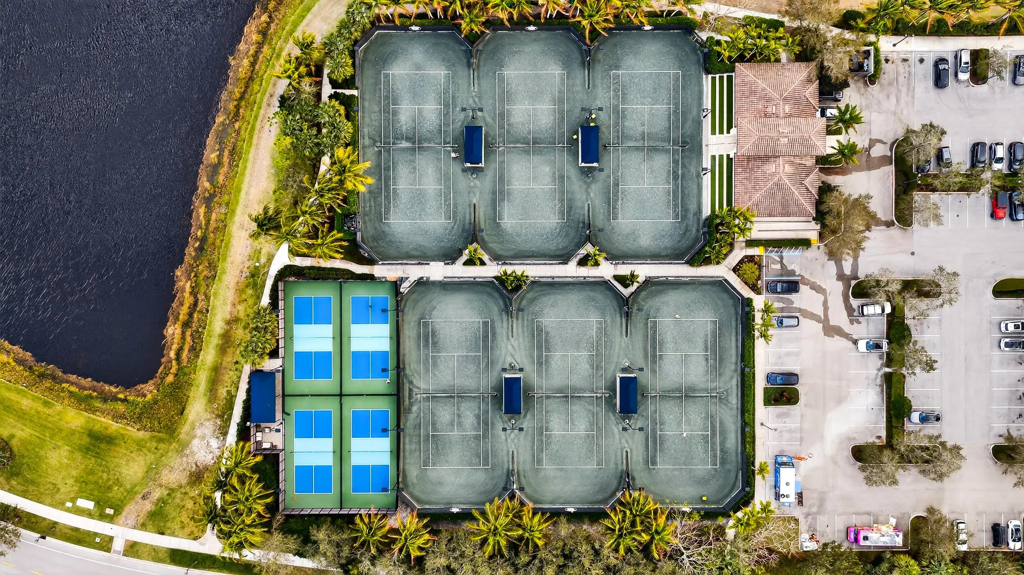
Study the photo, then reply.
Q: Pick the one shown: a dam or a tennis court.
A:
tennis court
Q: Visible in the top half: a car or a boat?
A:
car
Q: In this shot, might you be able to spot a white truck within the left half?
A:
No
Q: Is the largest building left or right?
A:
right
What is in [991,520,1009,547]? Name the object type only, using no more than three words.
vehicle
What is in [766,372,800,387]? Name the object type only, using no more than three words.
car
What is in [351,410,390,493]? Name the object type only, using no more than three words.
sports court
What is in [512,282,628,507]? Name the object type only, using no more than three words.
tennis court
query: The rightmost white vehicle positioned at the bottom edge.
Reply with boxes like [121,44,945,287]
[1006,518,1023,549]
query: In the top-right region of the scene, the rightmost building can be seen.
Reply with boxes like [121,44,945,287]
[732,62,828,217]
